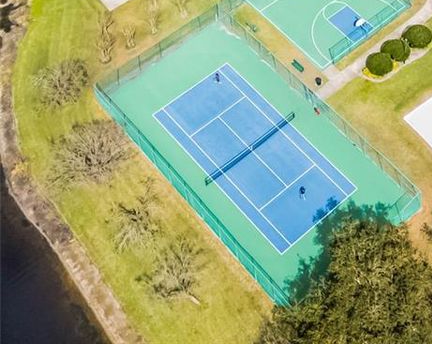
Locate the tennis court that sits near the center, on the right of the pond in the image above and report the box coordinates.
[97,17,423,312]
